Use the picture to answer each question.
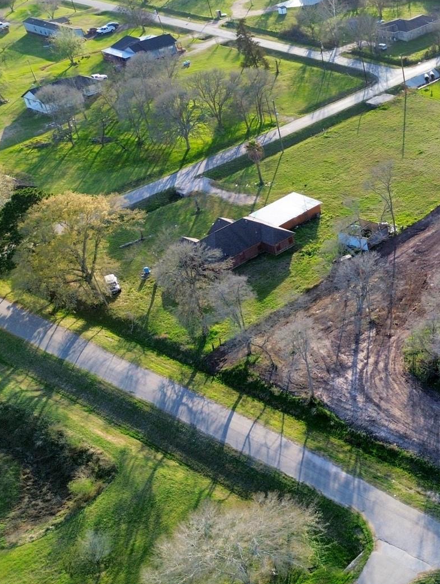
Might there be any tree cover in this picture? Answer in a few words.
Yes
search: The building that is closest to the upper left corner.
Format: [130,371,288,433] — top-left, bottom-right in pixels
[21,17,96,37]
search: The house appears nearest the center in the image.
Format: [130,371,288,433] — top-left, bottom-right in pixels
[171,191,325,278]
